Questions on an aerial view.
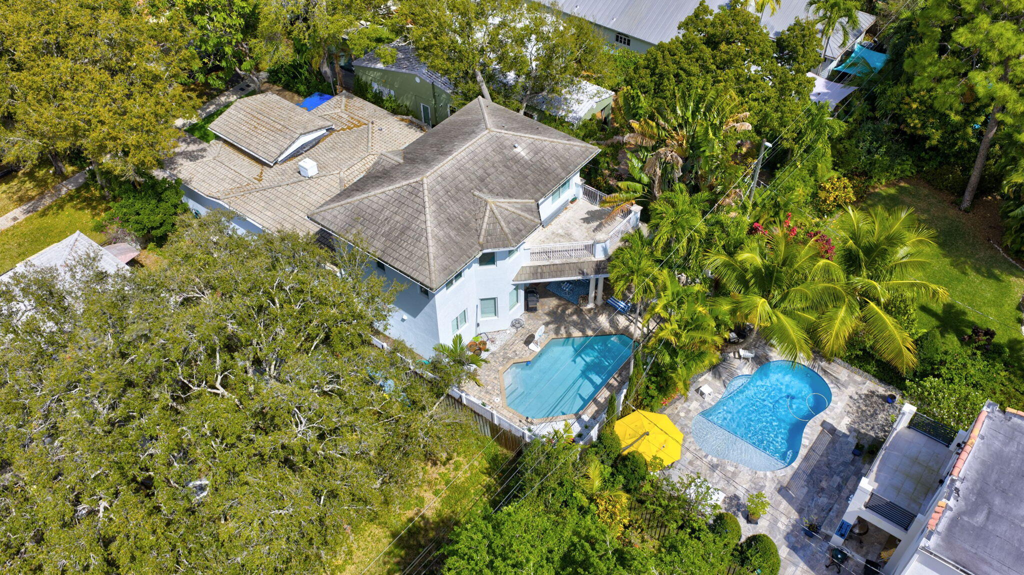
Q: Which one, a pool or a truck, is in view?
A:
pool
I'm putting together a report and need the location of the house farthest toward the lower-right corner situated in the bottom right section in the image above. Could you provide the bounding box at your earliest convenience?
[863,396,1024,575]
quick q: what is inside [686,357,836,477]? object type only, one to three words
swimming pool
